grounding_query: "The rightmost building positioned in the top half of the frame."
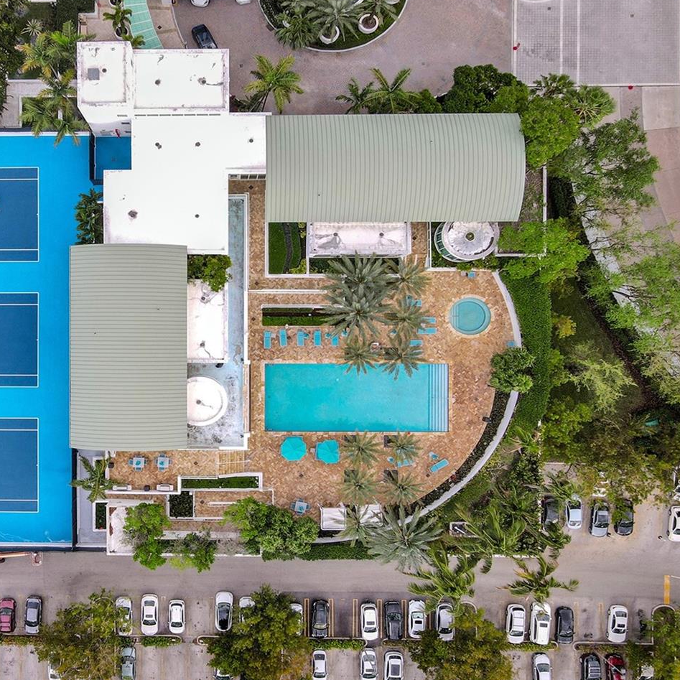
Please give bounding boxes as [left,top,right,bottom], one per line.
[70,42,529,451]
